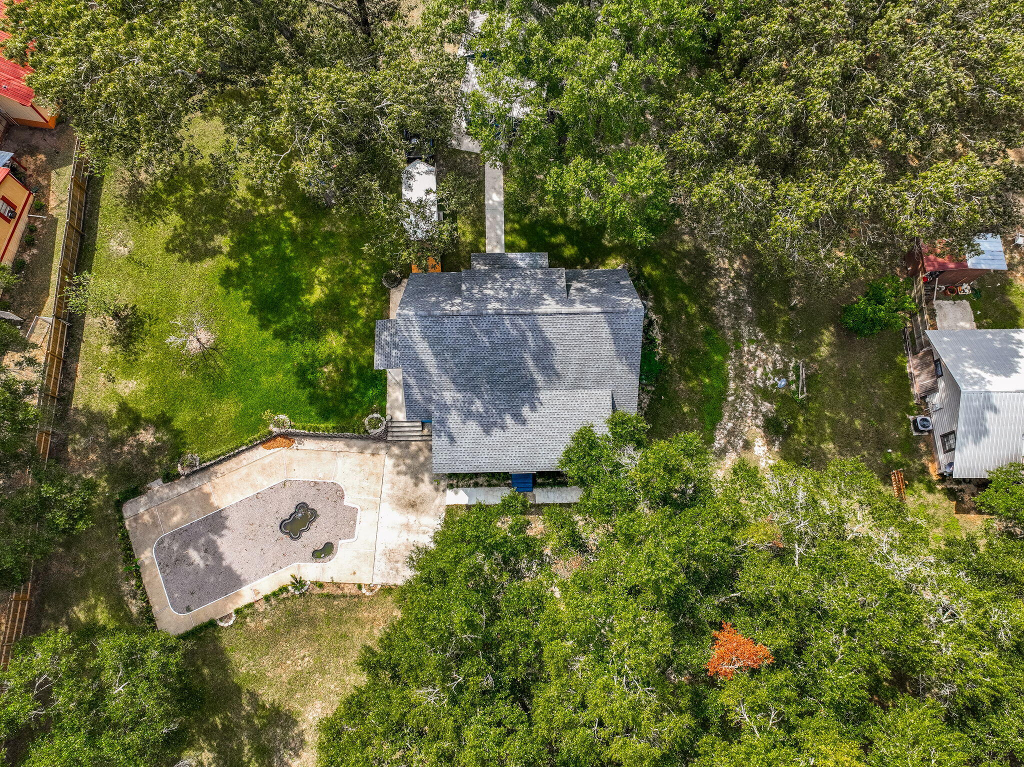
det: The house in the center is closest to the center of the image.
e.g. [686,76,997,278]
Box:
[373,253,648,500]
